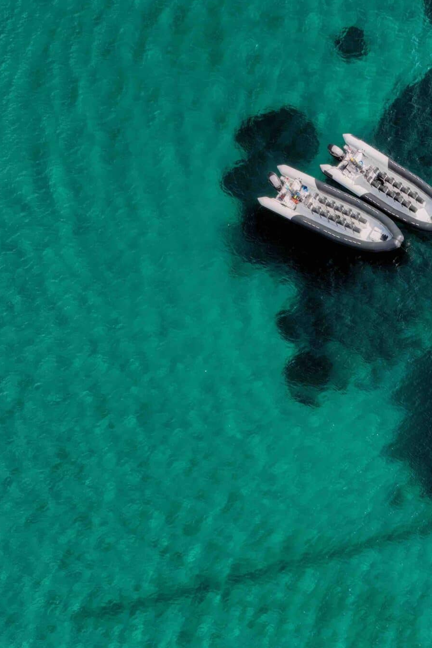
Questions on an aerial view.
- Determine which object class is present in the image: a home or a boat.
boat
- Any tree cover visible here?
No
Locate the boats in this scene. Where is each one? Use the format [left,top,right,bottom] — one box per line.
[258,165,403,255]
[321,135,432,231]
